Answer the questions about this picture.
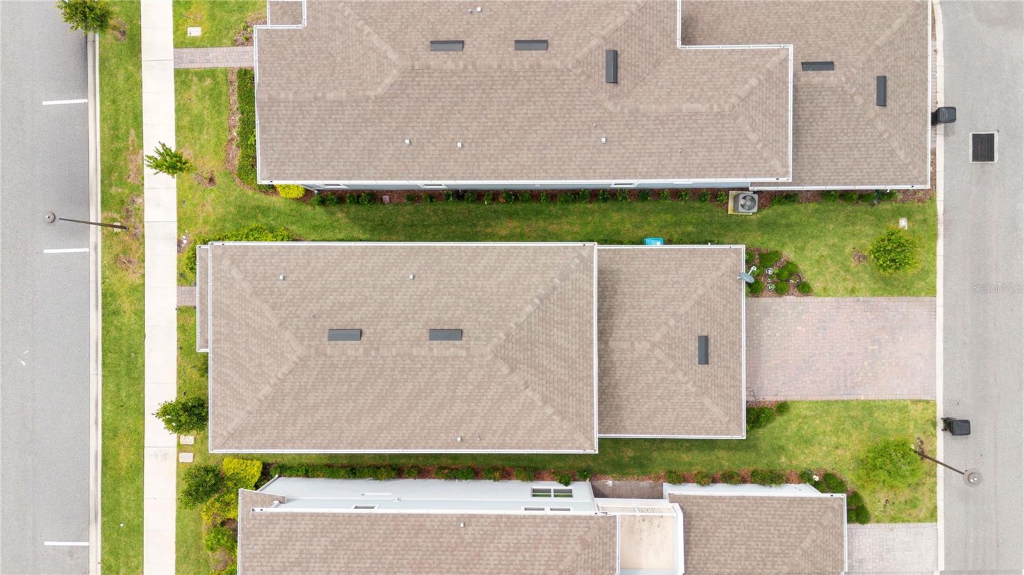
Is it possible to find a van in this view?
No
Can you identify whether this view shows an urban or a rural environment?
urban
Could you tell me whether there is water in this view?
No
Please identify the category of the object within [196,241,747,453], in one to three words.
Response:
house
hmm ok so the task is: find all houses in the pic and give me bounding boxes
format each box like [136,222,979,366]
[254,0,931,193]
[196,241,747,453]
[237,478,847,575]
